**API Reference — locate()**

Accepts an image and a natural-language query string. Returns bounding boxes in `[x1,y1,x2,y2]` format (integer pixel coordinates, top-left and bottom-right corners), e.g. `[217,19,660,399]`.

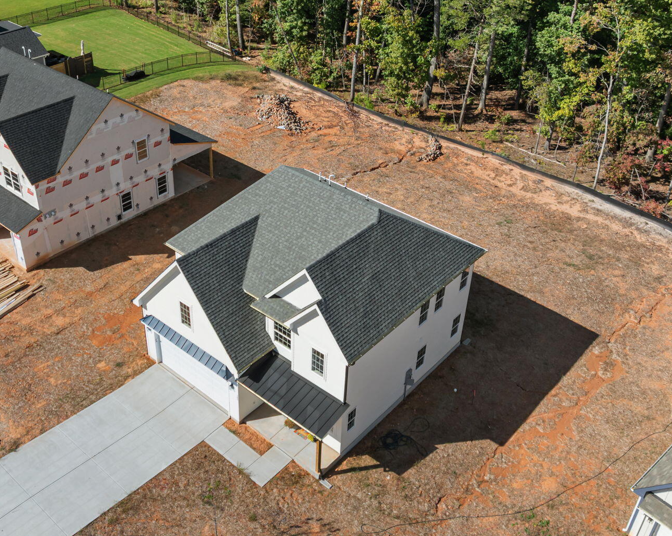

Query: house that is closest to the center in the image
[133,165,492,479]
